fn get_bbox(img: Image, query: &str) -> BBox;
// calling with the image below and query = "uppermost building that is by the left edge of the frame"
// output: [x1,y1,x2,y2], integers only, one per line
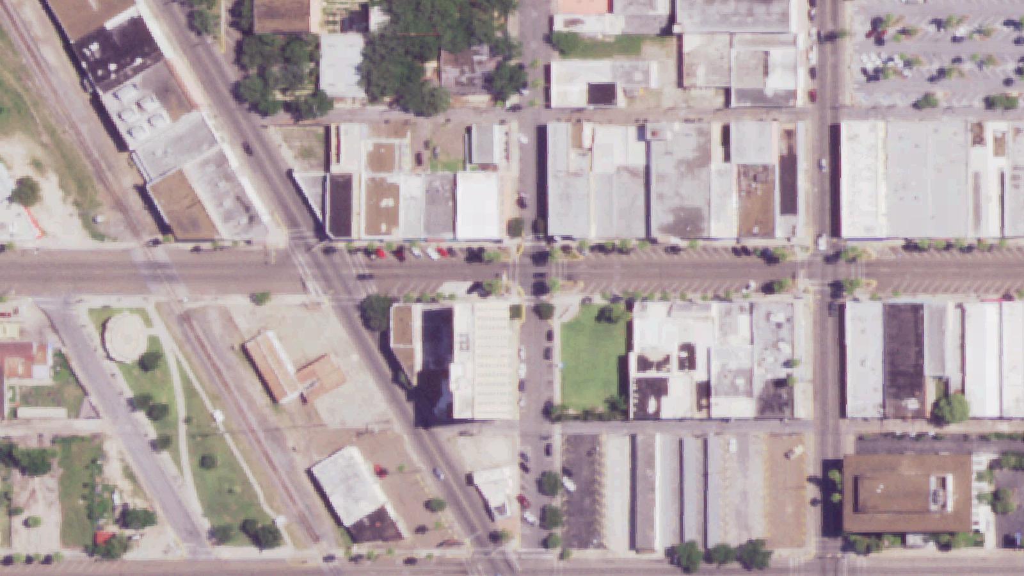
[46,0,137,42]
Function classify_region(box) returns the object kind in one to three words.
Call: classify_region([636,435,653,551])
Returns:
shed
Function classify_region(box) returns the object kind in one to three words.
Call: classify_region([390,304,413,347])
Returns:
building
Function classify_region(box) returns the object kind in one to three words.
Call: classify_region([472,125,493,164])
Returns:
house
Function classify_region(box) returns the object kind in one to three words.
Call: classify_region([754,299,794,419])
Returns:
building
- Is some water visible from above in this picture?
No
